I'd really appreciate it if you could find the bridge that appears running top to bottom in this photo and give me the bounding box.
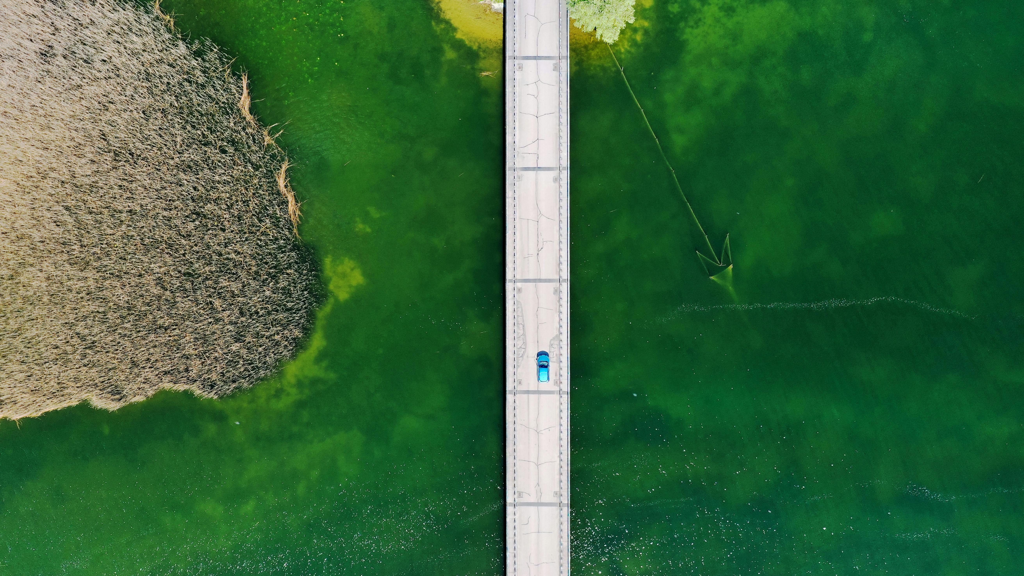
[507,0,570,576]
